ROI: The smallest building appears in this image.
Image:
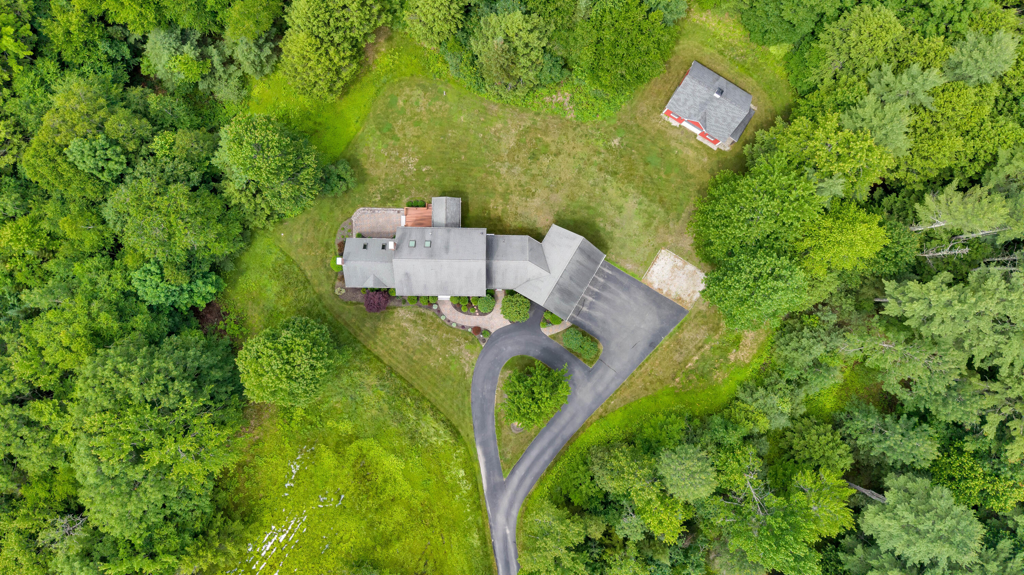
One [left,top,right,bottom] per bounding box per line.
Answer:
[663,60,755,145]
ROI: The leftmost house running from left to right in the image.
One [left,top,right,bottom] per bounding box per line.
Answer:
[336,196,607,321]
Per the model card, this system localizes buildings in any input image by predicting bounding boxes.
[336,196,607,321]
[663,60,755,145]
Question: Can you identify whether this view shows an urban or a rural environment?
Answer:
rural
